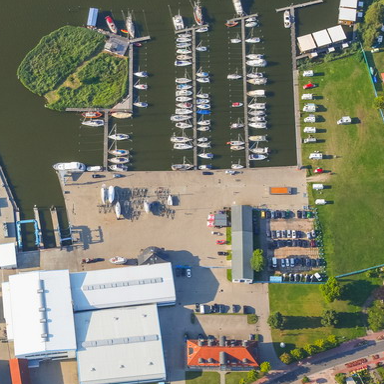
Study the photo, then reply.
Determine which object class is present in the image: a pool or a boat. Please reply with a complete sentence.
The one in the frame is a boat.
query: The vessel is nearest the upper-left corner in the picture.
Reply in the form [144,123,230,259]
[102,14,117,34]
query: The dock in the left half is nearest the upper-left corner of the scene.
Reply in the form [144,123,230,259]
[65,27,150,113]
